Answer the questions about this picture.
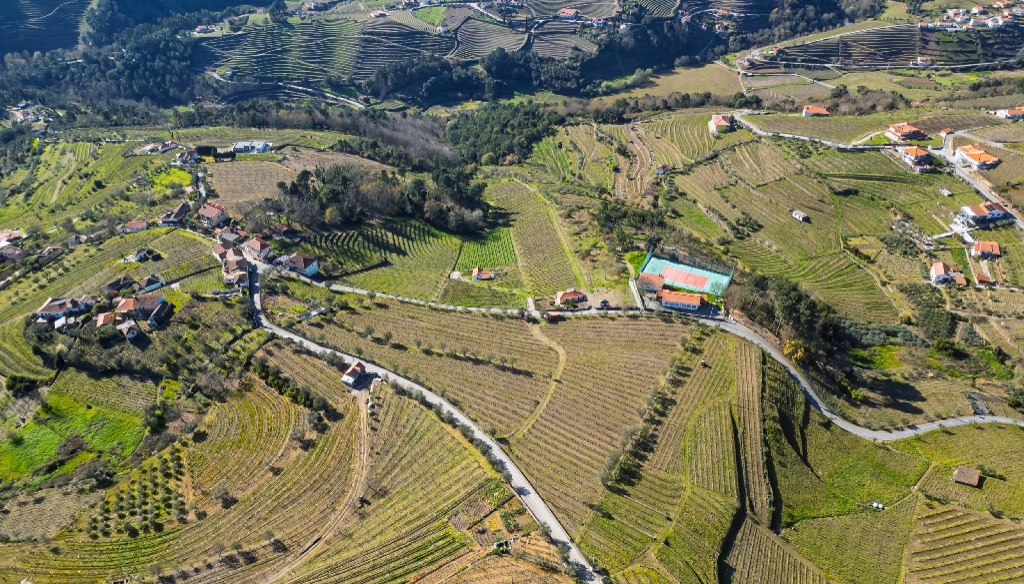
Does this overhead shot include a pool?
No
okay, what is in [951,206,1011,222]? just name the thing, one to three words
house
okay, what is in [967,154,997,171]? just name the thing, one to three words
house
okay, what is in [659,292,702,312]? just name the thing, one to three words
building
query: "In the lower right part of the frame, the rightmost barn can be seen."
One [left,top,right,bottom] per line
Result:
[947,467,984,489]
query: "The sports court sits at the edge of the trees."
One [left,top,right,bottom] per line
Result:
[641,256,729,295]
